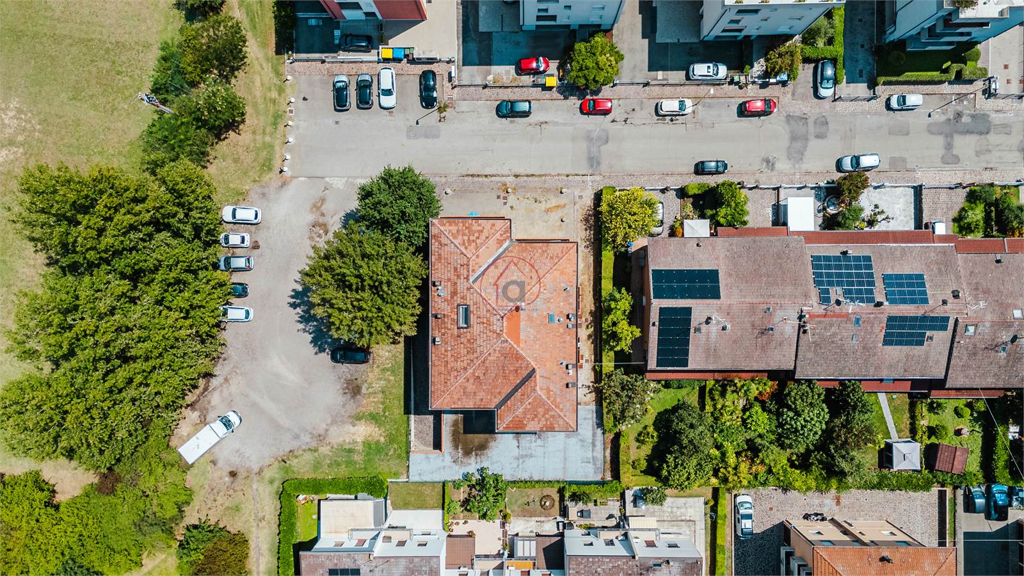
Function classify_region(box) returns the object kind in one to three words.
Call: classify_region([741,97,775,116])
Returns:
car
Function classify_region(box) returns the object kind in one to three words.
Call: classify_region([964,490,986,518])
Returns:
car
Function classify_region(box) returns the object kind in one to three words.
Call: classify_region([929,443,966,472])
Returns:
shed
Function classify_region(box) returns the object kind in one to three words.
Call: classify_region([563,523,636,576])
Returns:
house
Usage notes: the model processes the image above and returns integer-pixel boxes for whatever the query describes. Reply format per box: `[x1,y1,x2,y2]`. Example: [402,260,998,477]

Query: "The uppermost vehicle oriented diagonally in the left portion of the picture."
[173,409,243,471]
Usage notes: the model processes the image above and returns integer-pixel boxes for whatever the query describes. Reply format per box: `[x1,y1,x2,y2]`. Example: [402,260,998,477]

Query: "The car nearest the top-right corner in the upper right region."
[886,92,923,110]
